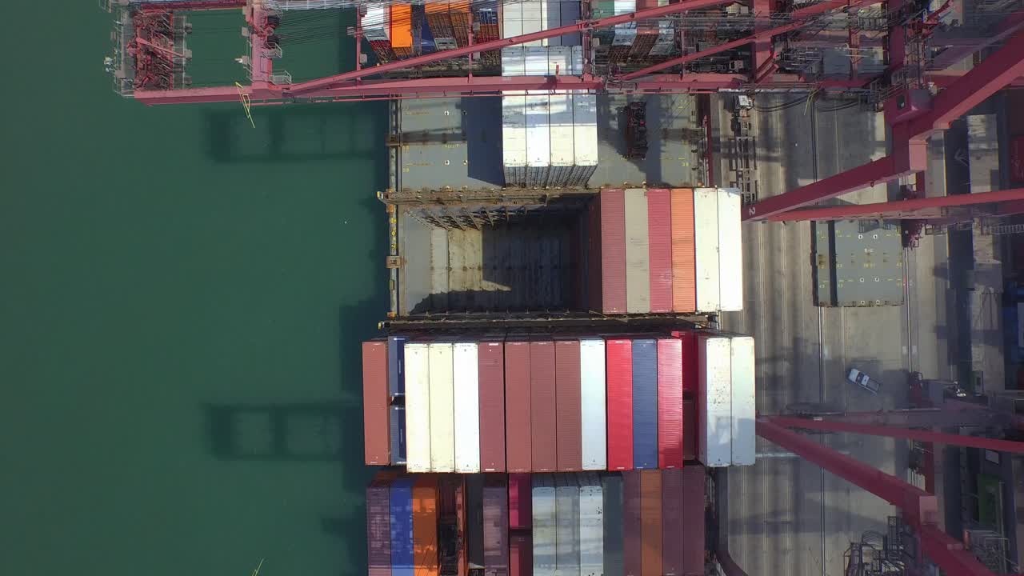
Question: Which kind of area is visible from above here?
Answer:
port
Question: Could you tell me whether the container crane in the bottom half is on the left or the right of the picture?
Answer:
right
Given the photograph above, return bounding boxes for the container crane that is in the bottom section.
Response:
[710,364,1024,576]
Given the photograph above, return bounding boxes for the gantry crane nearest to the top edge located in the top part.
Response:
[98,0,1024,253]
